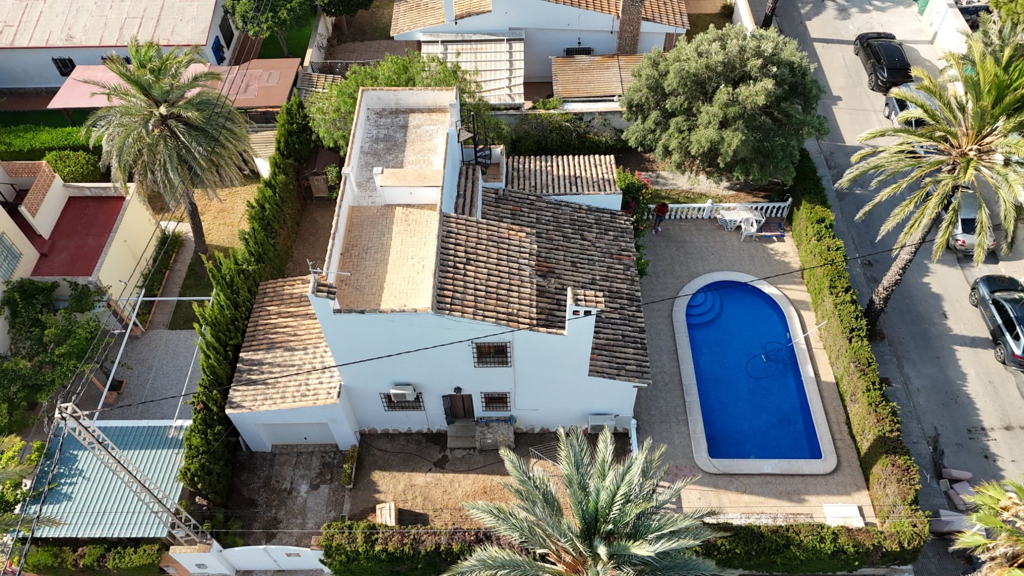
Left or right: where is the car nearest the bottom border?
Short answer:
right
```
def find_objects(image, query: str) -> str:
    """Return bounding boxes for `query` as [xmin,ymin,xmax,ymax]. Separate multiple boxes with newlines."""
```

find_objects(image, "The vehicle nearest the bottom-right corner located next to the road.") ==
[972,286,1024,382]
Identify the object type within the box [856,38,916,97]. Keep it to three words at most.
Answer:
car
